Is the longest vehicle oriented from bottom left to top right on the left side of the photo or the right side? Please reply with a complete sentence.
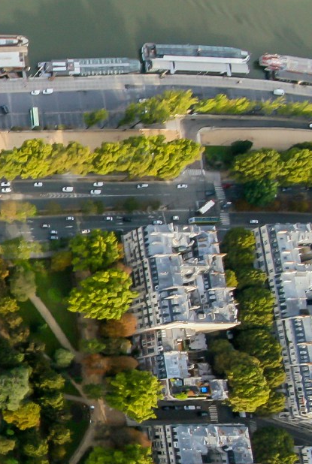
The longest vehicle oriented from bottom left to top right appears in the right half of the scene.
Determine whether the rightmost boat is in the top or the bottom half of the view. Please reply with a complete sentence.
You can find the rightmost boat in the top half.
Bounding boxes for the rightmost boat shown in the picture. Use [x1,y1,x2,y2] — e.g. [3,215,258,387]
[257,54,312,76]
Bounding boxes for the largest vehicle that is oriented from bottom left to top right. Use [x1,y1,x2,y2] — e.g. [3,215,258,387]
[198,195,222,214]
